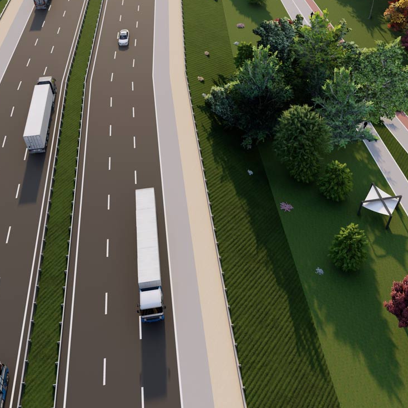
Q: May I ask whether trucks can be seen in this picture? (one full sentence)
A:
Yes, a truck can be made out from above.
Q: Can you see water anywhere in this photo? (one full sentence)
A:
No, the scene doesn't show any water.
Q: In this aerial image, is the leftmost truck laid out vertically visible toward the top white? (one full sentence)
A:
Yes, the leftmost truck laid out vertically visible toward the top is white.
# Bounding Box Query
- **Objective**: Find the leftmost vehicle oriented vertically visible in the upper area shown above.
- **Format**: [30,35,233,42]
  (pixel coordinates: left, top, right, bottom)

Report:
[22,75,55,151]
